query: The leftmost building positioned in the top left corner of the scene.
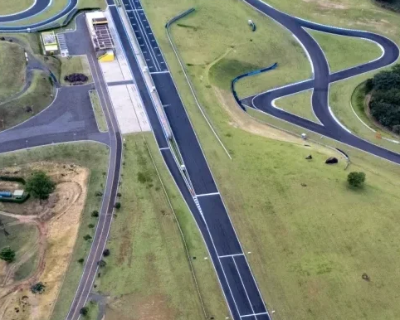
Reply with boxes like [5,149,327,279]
[41,31,60,57]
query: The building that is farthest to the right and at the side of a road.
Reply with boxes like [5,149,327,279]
[86,11,118,67]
